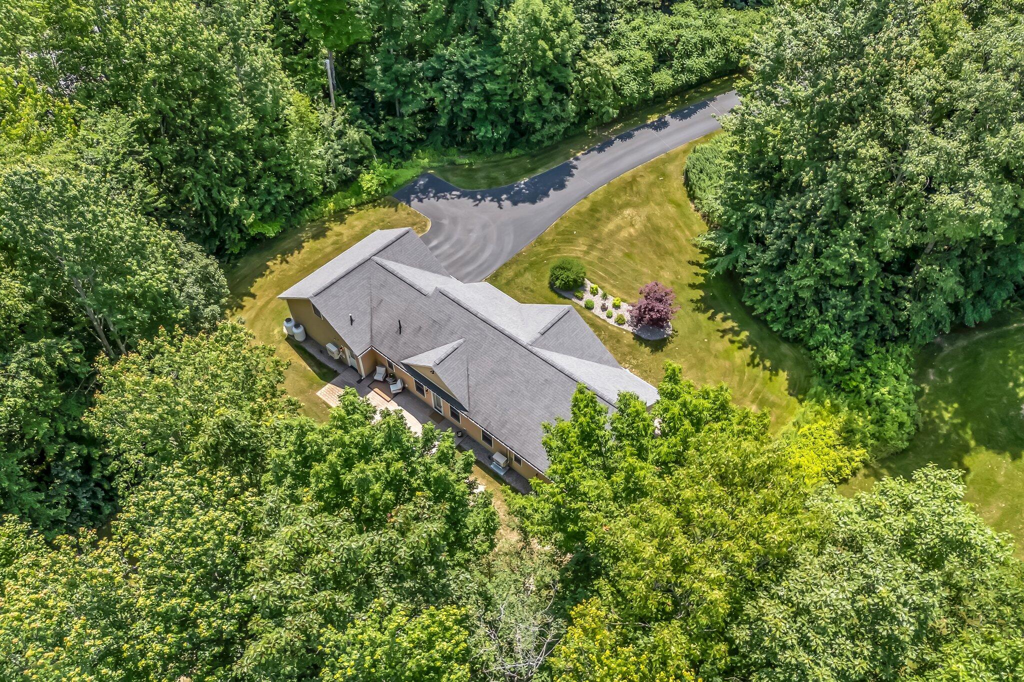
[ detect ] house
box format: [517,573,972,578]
[279,227,661,493]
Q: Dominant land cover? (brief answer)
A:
trees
